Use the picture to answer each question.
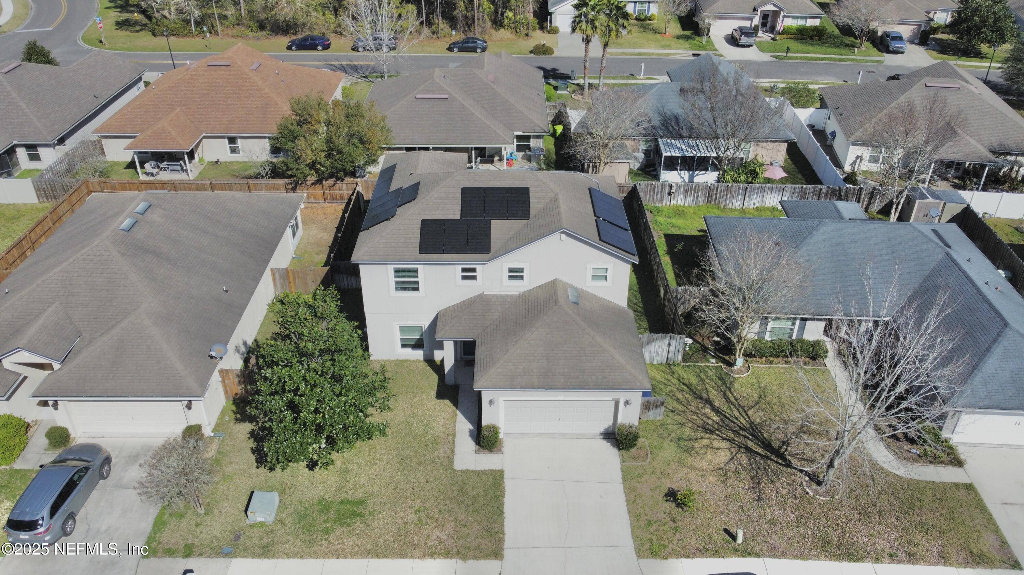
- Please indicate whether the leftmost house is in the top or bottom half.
top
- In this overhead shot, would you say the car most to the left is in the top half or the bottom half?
bottom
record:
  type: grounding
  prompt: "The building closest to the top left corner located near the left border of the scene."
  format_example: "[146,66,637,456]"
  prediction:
[0,48,146,177]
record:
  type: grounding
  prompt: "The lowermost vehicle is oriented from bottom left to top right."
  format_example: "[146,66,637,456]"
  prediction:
[4,448,110,551]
